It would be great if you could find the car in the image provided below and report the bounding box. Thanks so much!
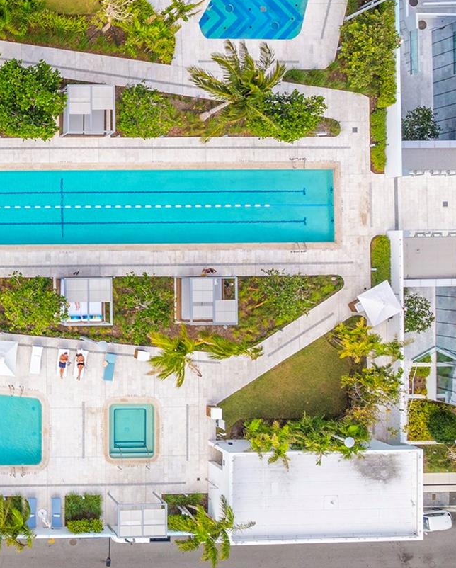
[425,509,455,533]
